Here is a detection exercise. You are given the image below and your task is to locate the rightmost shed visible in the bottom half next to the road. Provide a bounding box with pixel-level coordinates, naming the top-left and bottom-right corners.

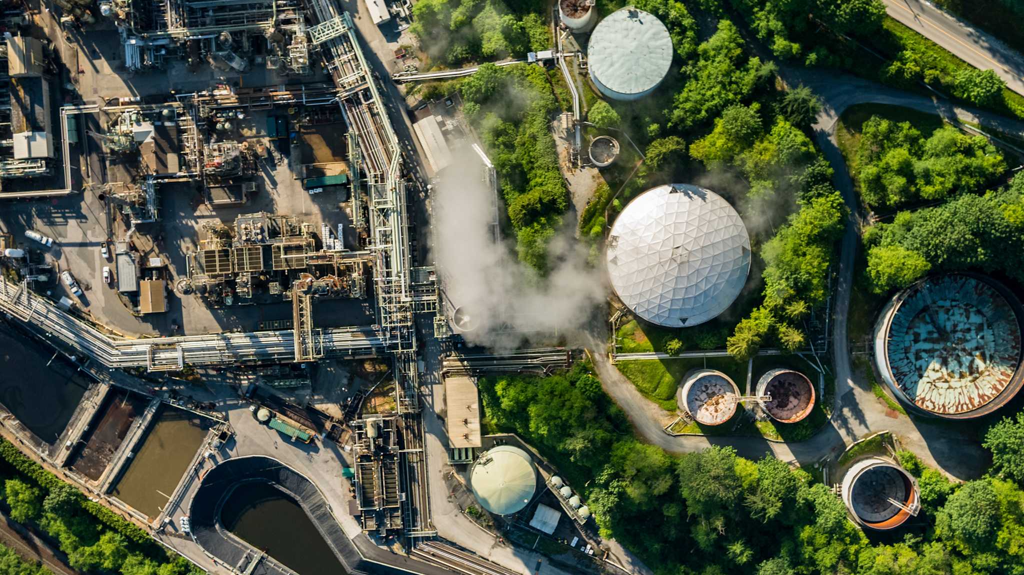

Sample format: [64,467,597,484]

[446,375,482,448]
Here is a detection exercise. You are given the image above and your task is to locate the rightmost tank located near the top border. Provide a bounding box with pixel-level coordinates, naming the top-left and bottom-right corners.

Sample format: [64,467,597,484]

[580,7,675,108]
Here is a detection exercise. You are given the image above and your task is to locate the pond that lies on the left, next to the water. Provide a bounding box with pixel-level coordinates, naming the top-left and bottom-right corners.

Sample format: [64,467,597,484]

[188,454,373,575]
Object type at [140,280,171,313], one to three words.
shed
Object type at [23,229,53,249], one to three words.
vehicle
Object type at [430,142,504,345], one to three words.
cooling tower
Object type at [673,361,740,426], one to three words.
storage tank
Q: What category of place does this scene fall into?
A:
industrial area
